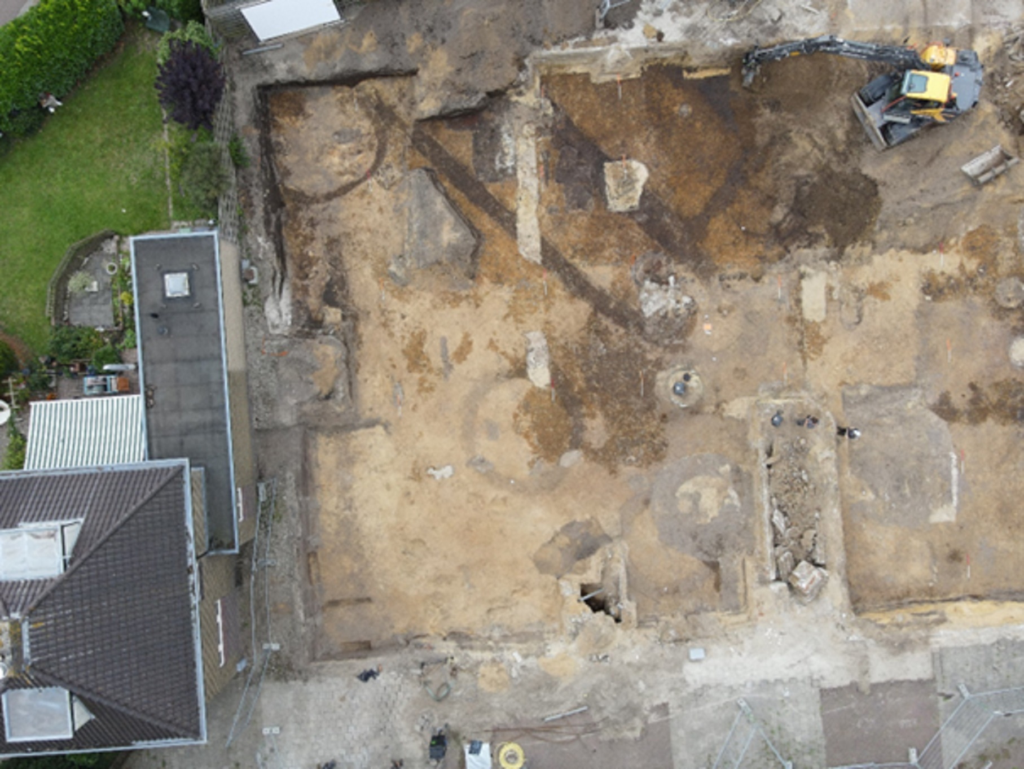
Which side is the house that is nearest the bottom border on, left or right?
left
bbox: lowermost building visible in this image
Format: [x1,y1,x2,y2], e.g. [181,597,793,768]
[0,454,239,758]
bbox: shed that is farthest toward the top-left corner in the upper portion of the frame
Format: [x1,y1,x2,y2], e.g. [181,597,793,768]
[205,0,262,60]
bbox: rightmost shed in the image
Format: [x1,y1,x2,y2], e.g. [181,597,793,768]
[245,0,342,45]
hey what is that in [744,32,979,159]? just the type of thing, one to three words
work vehicle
